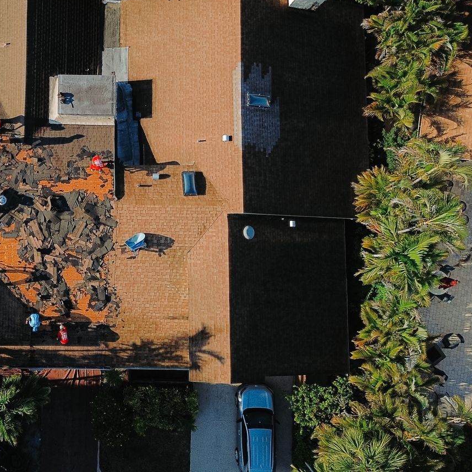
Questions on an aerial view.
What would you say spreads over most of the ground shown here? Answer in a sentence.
The bulk of the photo consists of buildings.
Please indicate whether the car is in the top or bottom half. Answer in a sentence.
You can find the car in the bottom half.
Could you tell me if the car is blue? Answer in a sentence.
Yes, the car is indeed blue.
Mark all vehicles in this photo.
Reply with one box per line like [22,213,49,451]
[234,381,282,472]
